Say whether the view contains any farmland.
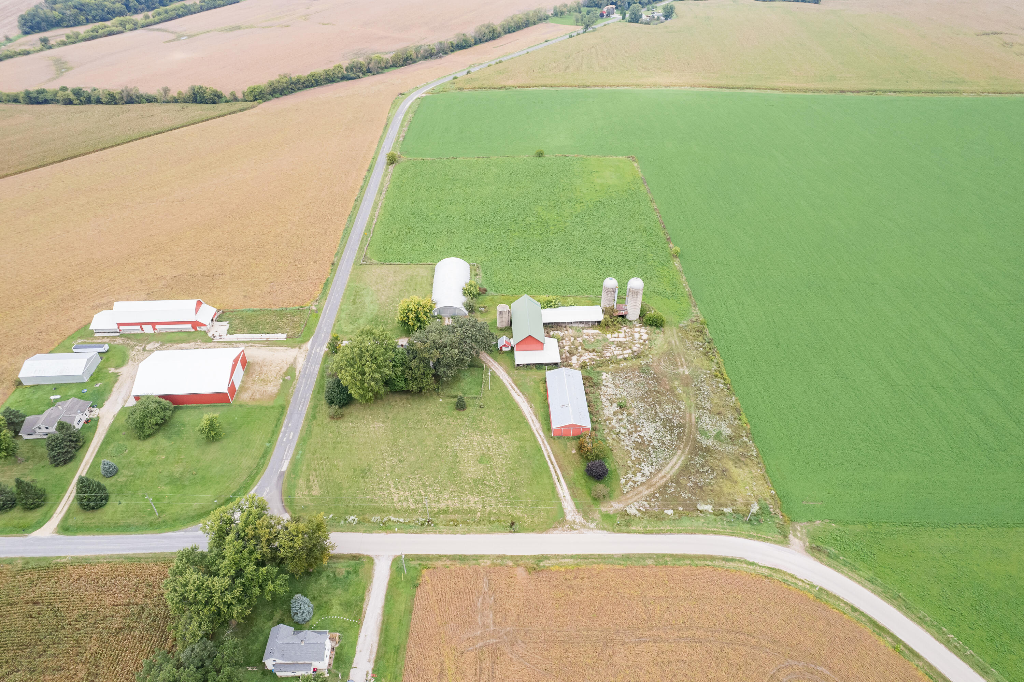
Yes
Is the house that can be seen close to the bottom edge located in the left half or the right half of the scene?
left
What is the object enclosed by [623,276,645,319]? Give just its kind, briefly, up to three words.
silo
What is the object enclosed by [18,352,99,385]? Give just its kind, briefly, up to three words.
shed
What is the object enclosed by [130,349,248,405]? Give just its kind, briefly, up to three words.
shed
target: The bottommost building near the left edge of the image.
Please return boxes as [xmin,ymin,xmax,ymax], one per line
[19,394,93,439]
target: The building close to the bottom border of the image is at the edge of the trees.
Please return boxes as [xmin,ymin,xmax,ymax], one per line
[263,622,331,676]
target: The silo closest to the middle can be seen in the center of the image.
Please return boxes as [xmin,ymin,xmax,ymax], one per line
[497,303,511,327]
